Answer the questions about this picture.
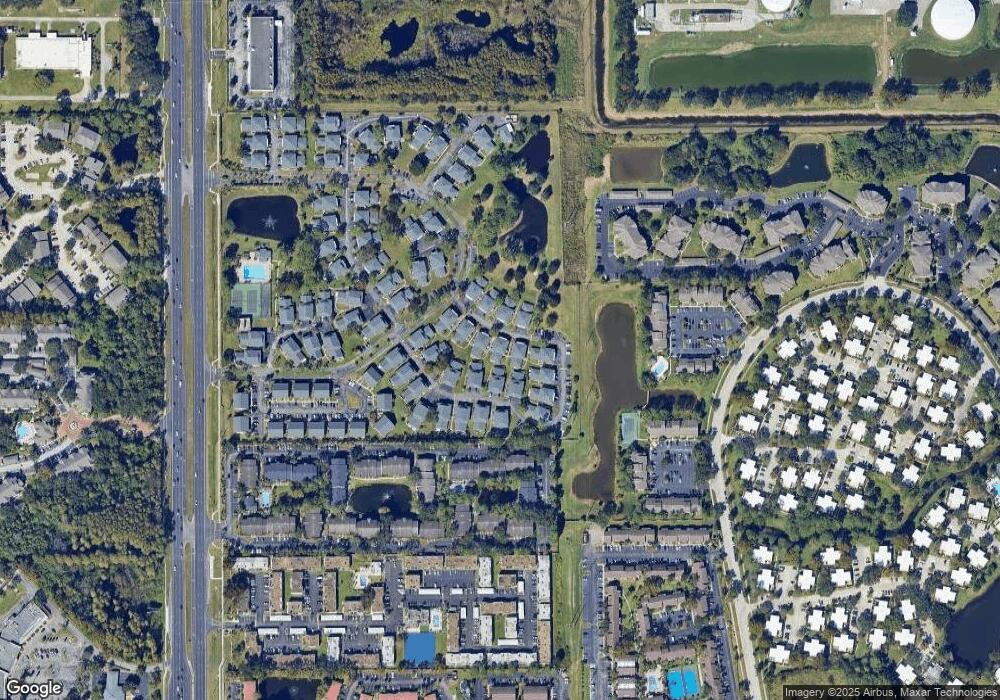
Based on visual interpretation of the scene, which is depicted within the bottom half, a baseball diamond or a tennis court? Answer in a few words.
tennis court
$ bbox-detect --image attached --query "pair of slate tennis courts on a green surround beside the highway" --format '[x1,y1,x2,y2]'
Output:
[231,284,261,317]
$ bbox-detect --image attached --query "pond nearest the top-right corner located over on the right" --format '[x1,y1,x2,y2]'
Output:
[900,47,1000,87]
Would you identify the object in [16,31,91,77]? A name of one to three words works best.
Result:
building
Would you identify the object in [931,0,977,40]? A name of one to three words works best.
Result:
storage tank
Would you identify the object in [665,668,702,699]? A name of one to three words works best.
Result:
tennis court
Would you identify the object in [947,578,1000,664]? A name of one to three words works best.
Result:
pond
